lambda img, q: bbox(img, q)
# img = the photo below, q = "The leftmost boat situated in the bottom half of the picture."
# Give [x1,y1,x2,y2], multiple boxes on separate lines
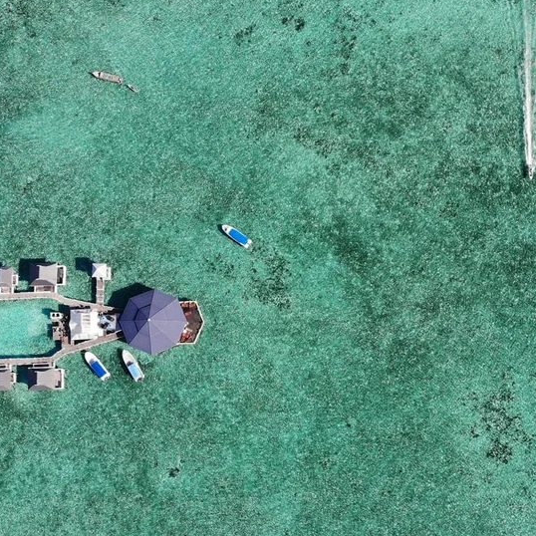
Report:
[83,351,110,381]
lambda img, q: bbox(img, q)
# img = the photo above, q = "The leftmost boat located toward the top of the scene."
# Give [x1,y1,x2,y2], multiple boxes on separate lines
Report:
[92,71,124,84]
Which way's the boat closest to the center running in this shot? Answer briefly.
on a diagonal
